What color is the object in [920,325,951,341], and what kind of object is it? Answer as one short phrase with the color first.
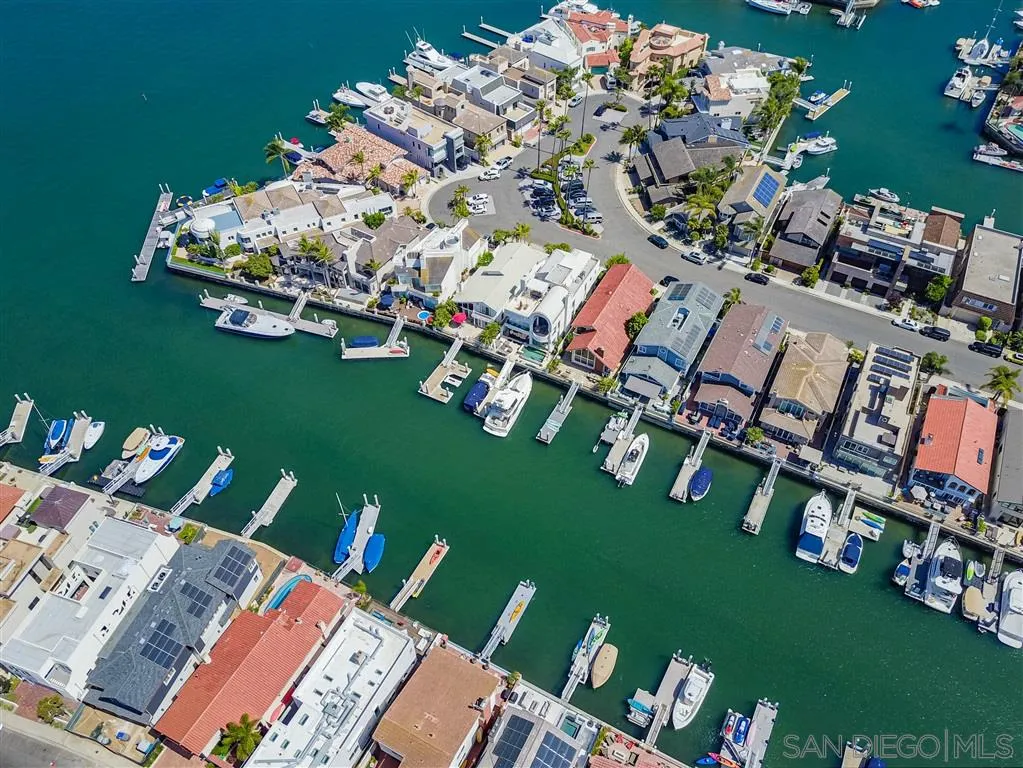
black car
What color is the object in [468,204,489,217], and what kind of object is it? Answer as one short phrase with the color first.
white vehicle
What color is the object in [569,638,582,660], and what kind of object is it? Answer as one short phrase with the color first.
blue boat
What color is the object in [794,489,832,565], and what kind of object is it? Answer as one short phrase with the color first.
white boat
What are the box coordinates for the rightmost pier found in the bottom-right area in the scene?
[978,543,1009,633]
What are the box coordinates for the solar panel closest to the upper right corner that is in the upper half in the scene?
[752,172,780,208]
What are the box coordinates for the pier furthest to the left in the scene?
[0,392,34,442]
